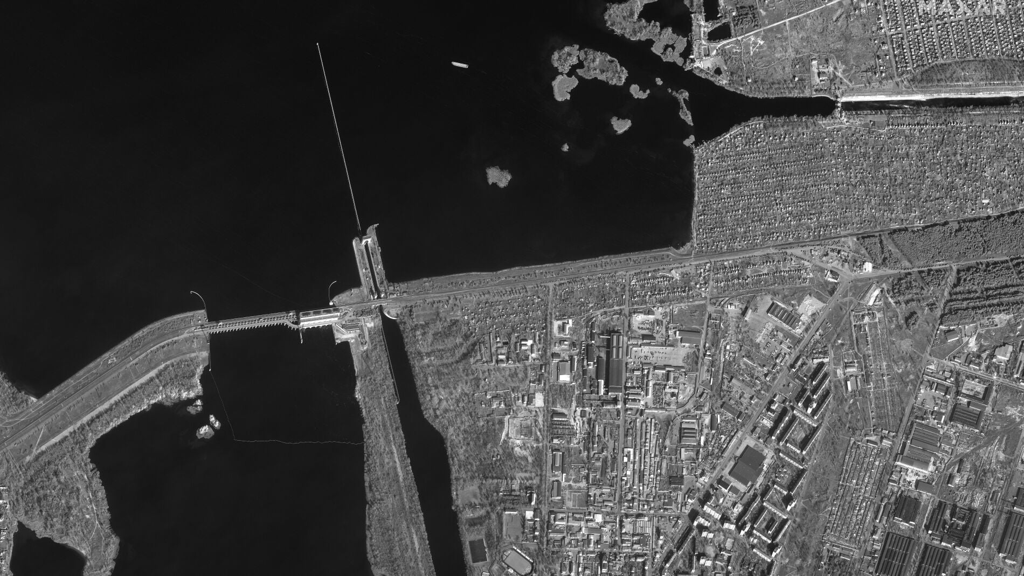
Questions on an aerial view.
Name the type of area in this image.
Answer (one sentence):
The area seen from above is a port.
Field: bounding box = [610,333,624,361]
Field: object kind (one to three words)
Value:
building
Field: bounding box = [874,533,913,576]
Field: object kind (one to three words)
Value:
building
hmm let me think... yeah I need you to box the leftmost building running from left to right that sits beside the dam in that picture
[301,307,340,328]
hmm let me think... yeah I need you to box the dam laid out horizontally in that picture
[204,311,303,335]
